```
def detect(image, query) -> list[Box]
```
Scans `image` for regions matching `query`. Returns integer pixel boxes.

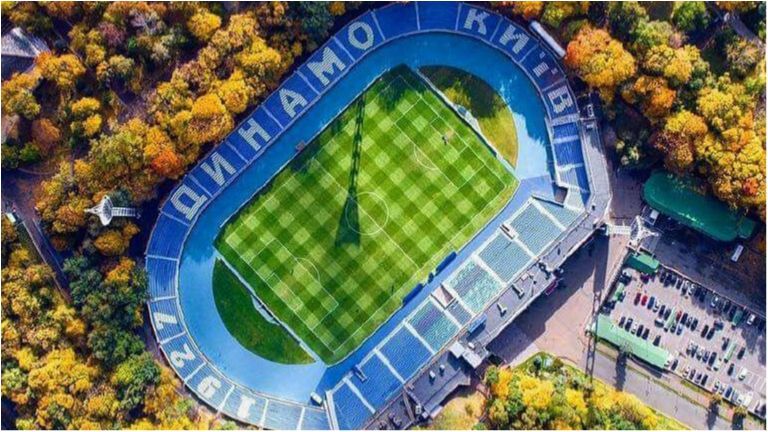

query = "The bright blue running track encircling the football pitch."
[178,31,563,408]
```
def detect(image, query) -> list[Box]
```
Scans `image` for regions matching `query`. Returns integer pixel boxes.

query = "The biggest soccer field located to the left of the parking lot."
[213,63,519,366]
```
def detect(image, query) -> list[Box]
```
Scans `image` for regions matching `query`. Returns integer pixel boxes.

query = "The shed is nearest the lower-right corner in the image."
[596,315,669,368]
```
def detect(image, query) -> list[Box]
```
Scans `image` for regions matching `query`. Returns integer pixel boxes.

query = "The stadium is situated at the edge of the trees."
[144,0,611,432]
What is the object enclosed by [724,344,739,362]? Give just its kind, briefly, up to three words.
vehicle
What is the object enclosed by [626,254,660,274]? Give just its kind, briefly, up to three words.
house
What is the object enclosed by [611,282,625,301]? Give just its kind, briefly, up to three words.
vehicle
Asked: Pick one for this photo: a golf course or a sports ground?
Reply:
sports ground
